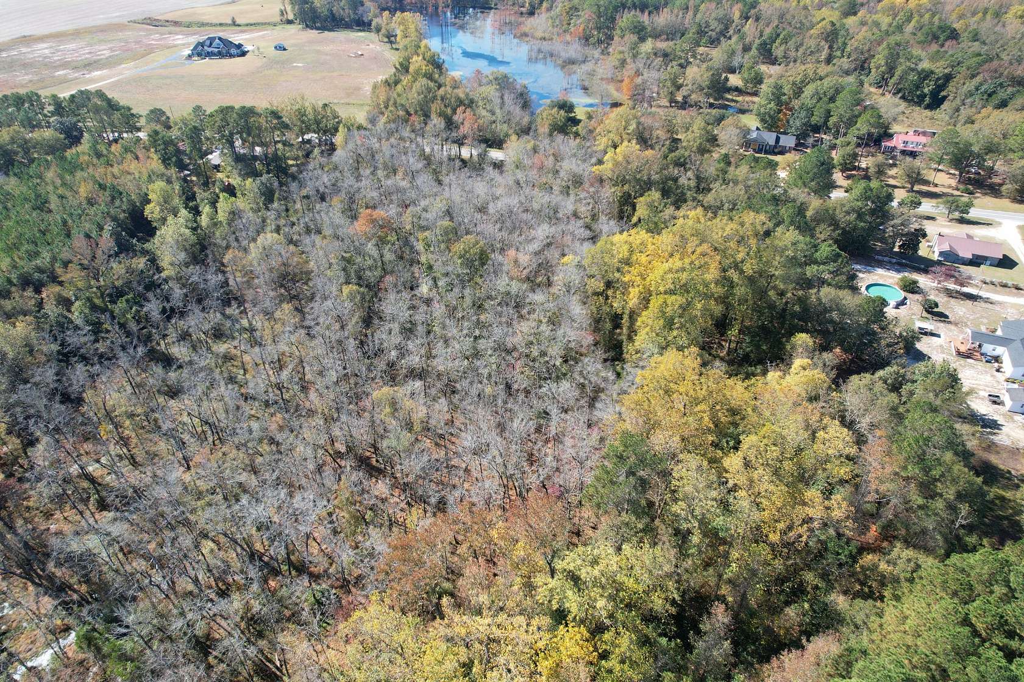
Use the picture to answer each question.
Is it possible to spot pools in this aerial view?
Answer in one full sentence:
Yes, a pool appears in the view.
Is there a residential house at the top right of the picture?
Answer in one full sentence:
Yes, I can see a residential house at the top right of the picture.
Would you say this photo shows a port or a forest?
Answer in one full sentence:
What you see here is a forest.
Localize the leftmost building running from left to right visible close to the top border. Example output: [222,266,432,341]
[187,33,250,58]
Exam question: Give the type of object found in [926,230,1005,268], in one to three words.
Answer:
house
